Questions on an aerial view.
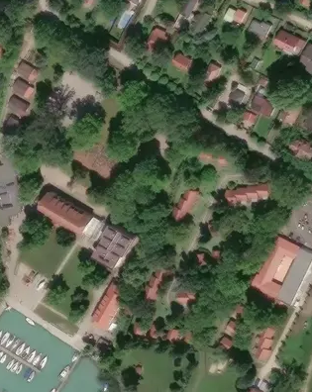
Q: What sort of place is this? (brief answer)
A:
residential area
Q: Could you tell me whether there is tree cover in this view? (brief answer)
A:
Yes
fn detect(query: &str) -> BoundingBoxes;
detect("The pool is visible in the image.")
[118,10,135,29]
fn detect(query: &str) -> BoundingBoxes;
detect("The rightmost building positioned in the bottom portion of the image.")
[277,247,312,306]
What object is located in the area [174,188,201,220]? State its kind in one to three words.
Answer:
house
